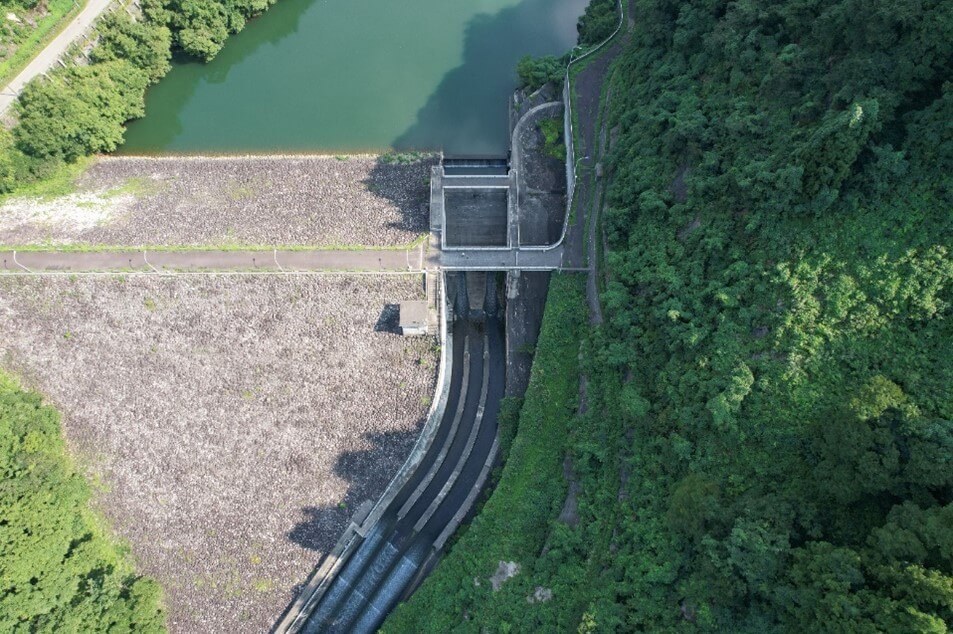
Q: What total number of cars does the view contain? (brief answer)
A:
0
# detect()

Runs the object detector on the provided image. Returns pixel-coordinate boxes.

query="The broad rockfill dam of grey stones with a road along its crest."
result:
[0,151,441,634]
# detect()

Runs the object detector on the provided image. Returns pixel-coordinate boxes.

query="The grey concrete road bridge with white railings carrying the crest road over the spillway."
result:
[438,243,591,274]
